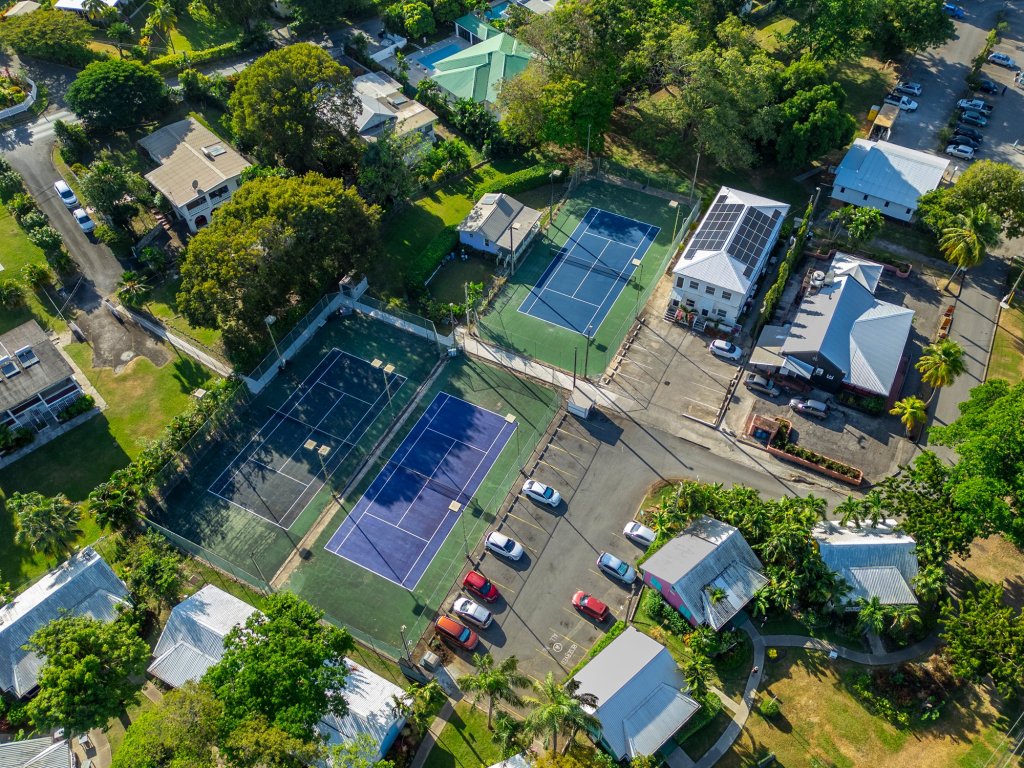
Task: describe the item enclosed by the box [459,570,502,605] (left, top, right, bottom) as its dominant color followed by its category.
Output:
red car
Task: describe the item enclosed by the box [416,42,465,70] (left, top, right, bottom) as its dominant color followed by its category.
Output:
blue swimming pool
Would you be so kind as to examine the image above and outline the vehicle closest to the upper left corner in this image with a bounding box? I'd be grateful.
[55,181,78,204]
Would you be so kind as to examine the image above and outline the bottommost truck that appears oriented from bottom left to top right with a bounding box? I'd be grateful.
[869,104,900,141]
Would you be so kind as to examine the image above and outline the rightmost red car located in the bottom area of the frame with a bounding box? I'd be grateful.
[568,587,611,622]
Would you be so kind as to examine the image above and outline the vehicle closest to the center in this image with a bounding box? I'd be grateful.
[521,478,561,507]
